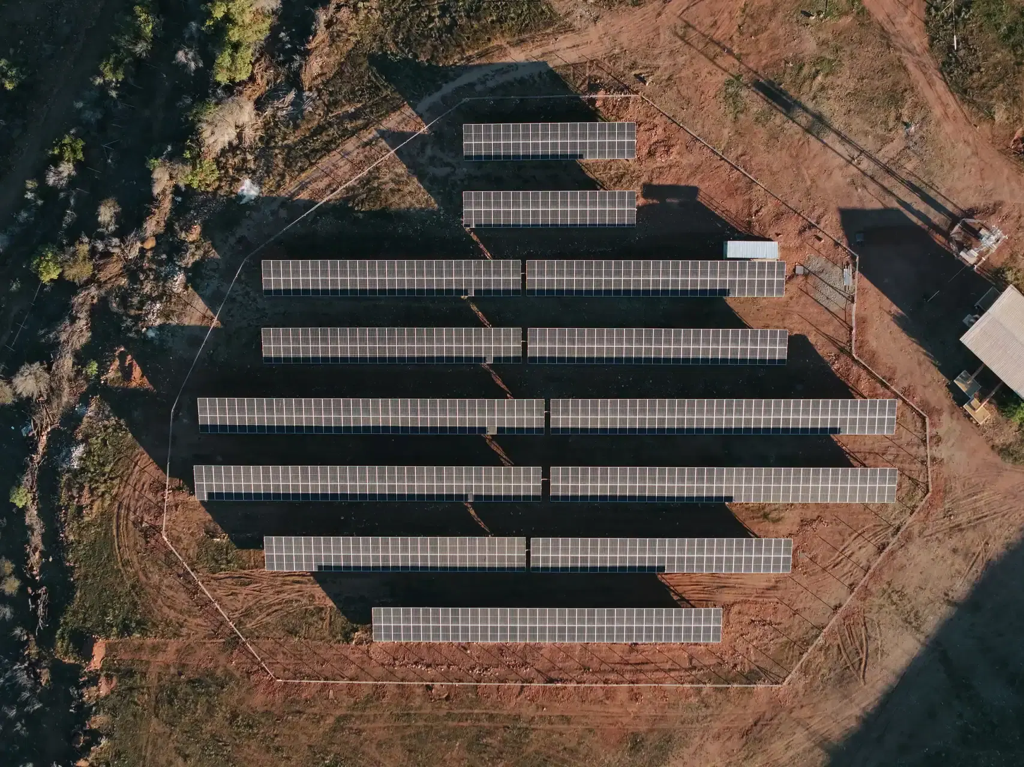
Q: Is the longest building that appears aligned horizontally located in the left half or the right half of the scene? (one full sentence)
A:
The longest building that appears aligned horizontally is on the right side of the image.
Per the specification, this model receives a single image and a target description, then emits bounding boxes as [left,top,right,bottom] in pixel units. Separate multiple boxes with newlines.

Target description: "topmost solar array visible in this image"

[463,122,636,160]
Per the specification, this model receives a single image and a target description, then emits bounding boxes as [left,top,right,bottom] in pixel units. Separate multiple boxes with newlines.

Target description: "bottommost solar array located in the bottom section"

[372,608,722,643]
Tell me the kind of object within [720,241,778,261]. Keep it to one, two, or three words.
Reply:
building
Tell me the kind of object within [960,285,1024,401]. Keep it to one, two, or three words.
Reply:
building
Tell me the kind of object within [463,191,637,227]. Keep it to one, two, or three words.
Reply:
solar array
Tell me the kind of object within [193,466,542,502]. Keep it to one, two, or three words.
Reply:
solar array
